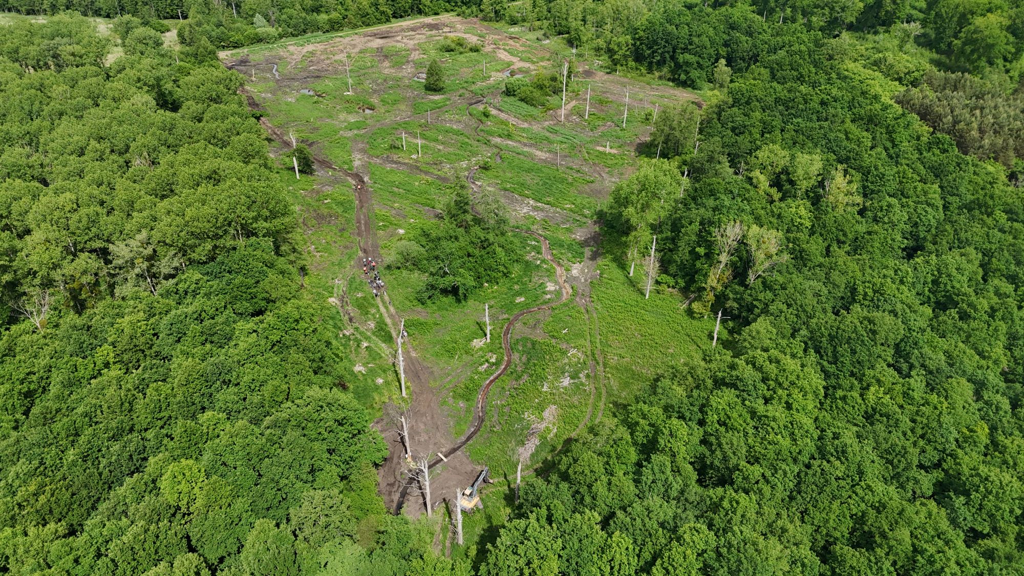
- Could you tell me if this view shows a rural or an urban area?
rural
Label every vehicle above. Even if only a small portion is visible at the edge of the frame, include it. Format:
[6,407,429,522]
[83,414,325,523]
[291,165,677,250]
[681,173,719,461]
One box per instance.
[460,465,494,514]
